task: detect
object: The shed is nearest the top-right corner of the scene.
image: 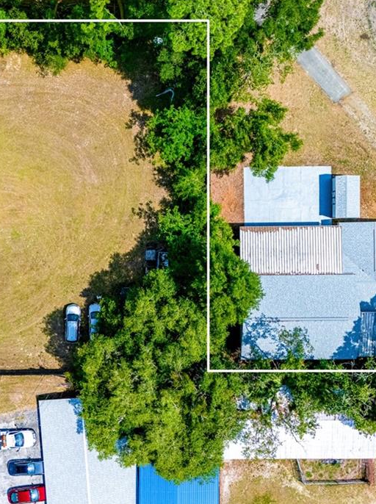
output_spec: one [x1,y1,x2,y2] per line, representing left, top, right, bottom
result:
[335,176,361,218]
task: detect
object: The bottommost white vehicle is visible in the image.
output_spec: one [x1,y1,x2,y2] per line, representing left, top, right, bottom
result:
[0,431,37,451]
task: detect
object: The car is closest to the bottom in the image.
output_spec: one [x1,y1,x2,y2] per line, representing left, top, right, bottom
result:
[7,484,45,503]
